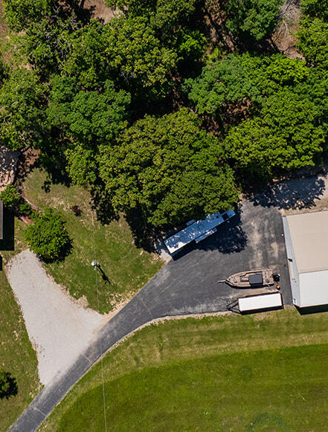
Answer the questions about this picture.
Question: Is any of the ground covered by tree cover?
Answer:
Yes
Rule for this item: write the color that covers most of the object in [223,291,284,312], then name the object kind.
white trailer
